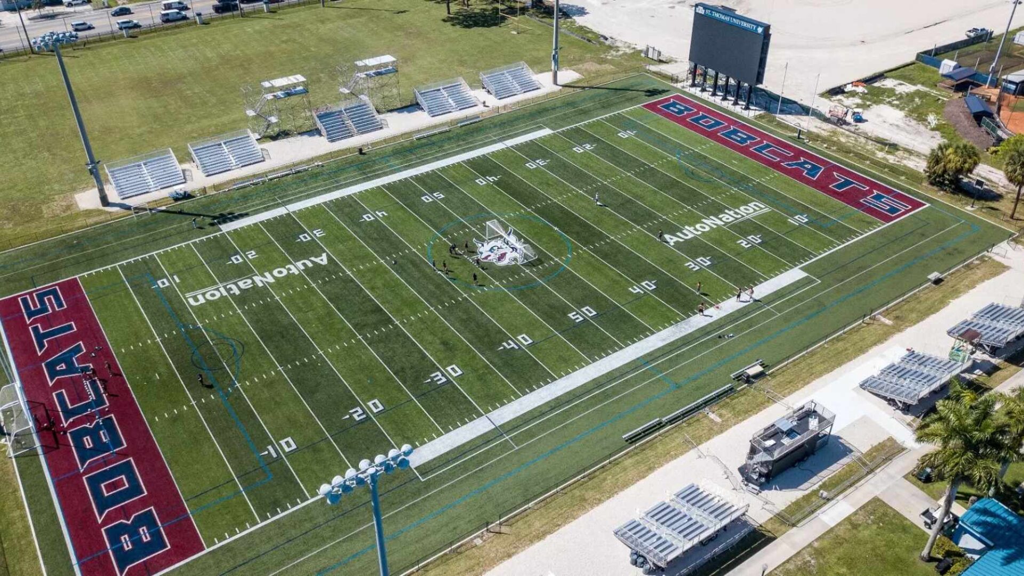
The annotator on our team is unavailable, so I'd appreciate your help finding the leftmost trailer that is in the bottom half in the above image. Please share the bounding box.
[736,405,831,495]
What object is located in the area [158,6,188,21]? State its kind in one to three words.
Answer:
vehicle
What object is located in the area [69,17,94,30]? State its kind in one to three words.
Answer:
vehicle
